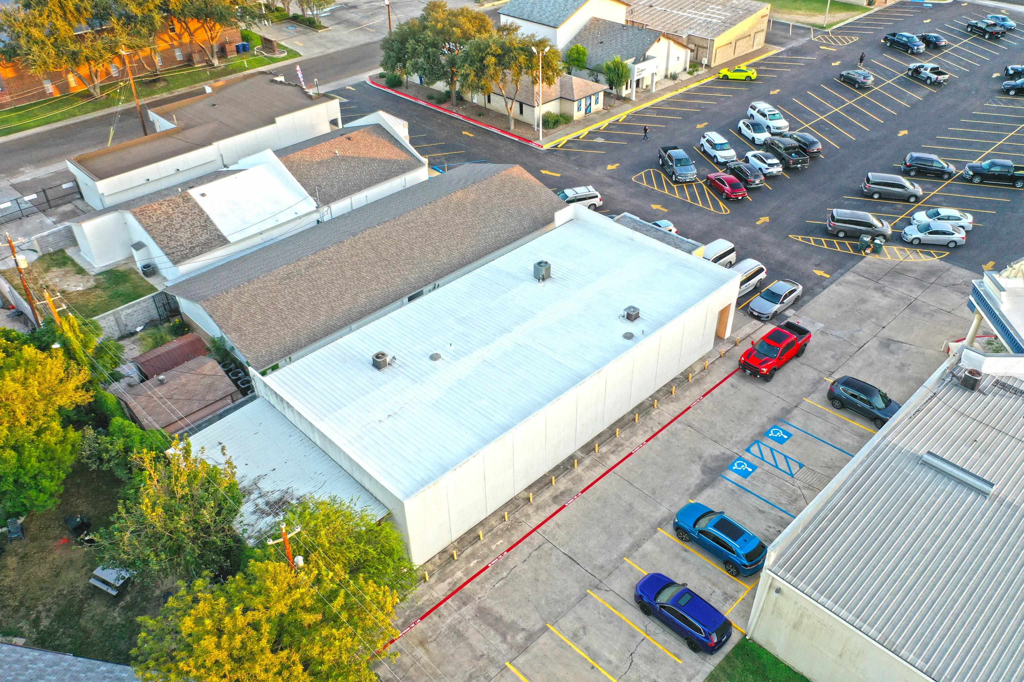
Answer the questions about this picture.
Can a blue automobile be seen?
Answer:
Yes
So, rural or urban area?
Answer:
urban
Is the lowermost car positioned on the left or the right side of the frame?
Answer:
right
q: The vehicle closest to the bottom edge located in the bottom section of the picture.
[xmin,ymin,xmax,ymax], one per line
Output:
[635,575,734,660]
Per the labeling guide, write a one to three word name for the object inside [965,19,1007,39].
vehicle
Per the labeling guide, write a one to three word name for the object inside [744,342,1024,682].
building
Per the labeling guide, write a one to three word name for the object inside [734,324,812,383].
truck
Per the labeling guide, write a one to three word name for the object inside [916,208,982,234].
car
